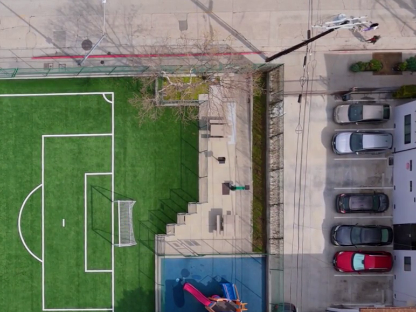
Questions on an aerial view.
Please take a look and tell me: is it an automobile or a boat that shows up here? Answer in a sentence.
Visible in the photo is an automobile.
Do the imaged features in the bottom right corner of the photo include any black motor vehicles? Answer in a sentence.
Yes, a black motor vehicle can be seen in the bottom right corner of the photo.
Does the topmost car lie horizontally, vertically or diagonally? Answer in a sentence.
The topmost car runs horizontally in the image.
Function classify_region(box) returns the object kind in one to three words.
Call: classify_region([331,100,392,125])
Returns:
car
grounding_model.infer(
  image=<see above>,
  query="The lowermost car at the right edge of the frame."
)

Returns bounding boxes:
[331,247,396,276]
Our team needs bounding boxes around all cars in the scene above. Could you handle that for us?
[331,247,396,276]
[330,128,396,157]
[331,100,392,125]
[328,221,393,248]
[333,190,389,216]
